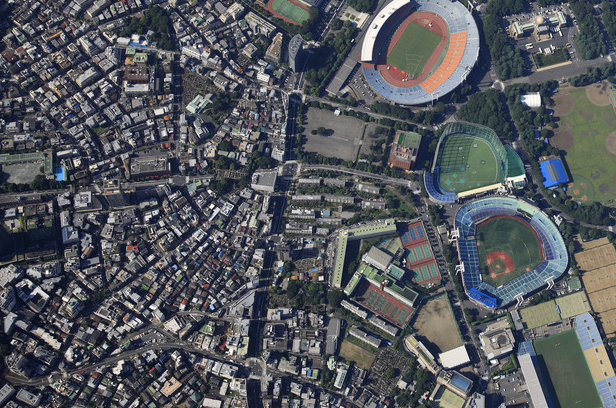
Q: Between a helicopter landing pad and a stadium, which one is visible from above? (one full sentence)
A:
The one in the frame is a stadium.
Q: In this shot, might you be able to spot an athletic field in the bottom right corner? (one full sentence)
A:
Yes, an athletic field can be seen in the bottom right corner.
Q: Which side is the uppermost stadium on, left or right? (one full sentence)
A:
The uppermost stadium appears in the right half of the scene.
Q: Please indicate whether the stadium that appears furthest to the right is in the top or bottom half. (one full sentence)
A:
The bottom half of the photo is where the stadium that appears furthest to the right is.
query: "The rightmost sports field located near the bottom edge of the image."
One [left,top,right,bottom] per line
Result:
[534,332,602,408]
